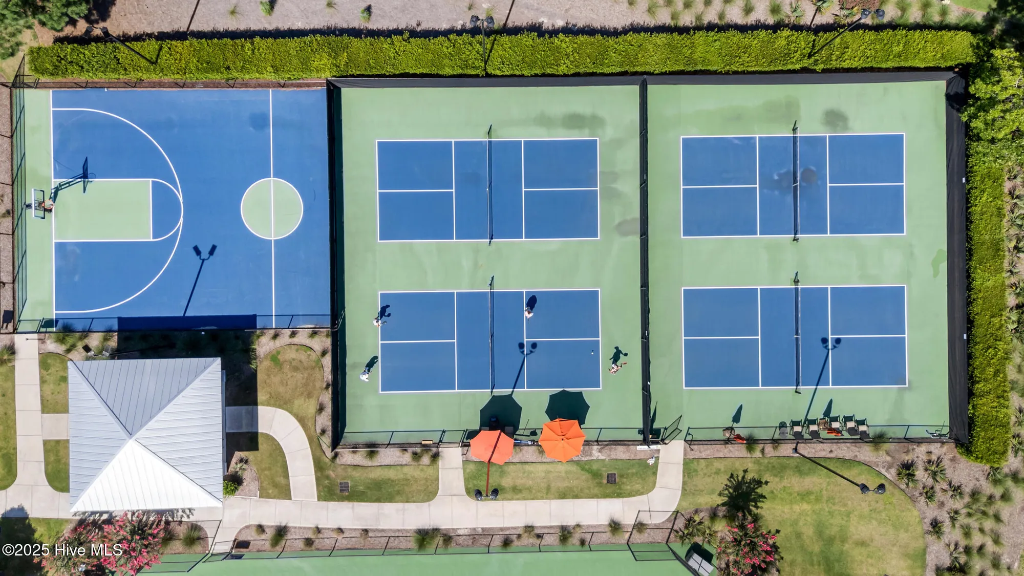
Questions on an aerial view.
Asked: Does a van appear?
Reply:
No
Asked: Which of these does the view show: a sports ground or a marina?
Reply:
sports ground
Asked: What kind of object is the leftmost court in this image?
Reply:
basketball court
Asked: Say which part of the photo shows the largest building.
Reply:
bottom left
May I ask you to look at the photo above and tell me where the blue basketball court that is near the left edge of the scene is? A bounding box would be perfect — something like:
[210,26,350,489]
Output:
[13,88,329,332]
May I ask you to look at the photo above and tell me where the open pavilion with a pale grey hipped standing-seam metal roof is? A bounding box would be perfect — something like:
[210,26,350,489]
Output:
[68,357,229,513]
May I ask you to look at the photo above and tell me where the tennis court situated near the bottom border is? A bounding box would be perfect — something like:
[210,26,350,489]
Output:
[145,542,718,576]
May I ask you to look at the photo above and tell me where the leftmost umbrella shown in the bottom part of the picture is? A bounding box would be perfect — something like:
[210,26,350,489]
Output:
[470,430,514,465]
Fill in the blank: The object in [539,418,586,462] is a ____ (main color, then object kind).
orange umbrella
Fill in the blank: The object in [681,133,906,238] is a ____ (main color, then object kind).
blue sports court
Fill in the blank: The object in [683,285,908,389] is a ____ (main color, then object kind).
blue sports court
